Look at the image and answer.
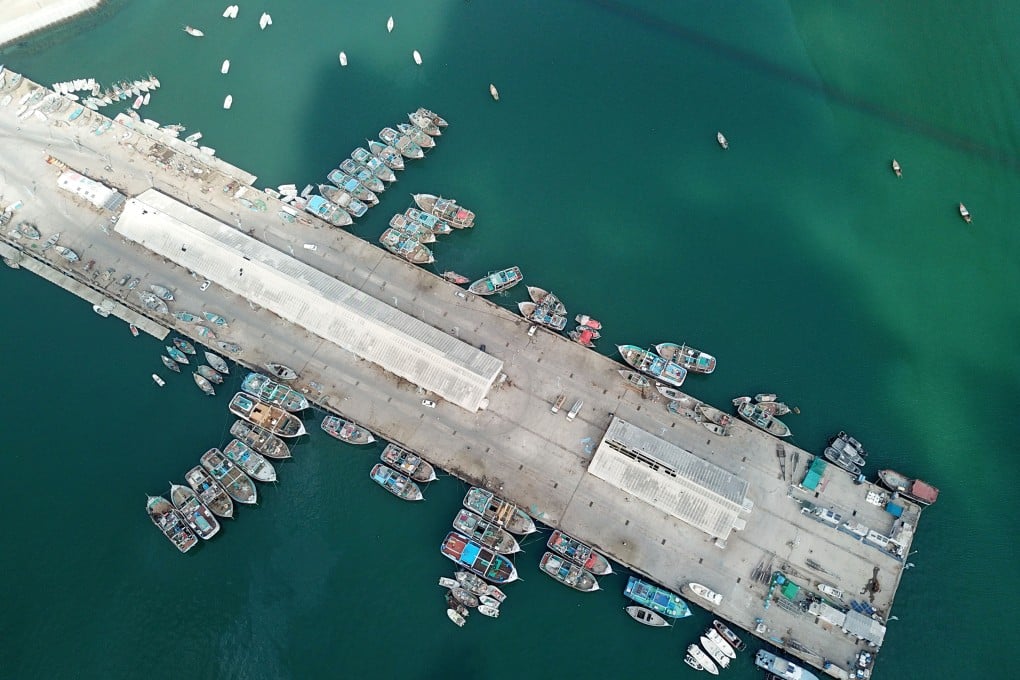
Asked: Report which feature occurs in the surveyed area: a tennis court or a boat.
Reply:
boat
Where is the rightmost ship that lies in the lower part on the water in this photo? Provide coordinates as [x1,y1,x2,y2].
[875,468,939,506]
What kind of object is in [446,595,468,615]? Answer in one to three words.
boat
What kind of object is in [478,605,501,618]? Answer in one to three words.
boat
